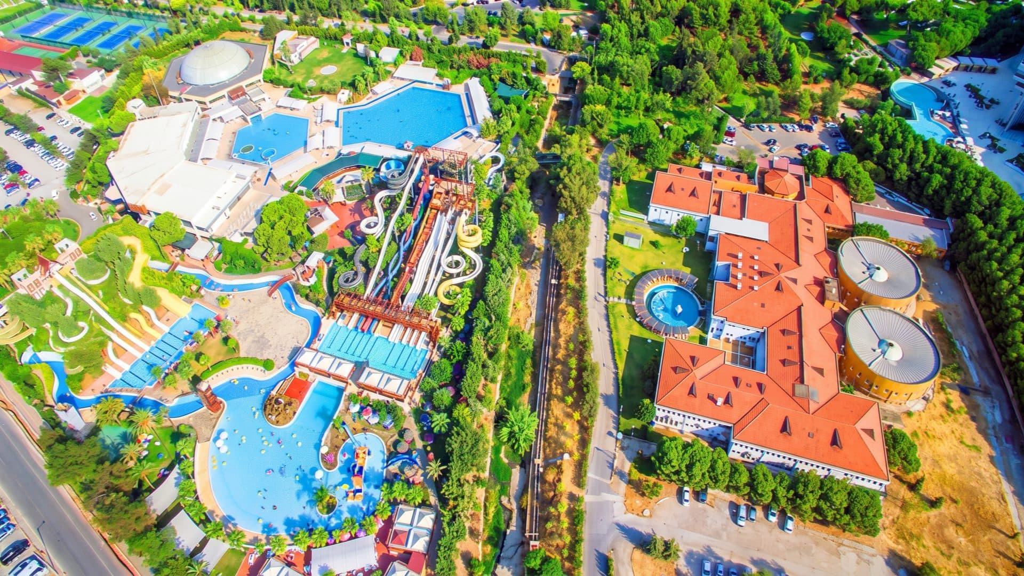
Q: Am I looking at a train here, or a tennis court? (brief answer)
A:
tennis court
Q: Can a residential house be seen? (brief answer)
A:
Yes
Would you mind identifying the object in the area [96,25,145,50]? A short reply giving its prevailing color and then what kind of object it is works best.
blue tennis court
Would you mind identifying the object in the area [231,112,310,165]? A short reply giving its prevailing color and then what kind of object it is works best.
blue swimming pool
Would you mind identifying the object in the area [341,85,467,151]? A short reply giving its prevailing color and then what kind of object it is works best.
blue swimming pool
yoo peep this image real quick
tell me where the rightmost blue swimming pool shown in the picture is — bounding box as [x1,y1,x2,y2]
[890,80,959,145]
